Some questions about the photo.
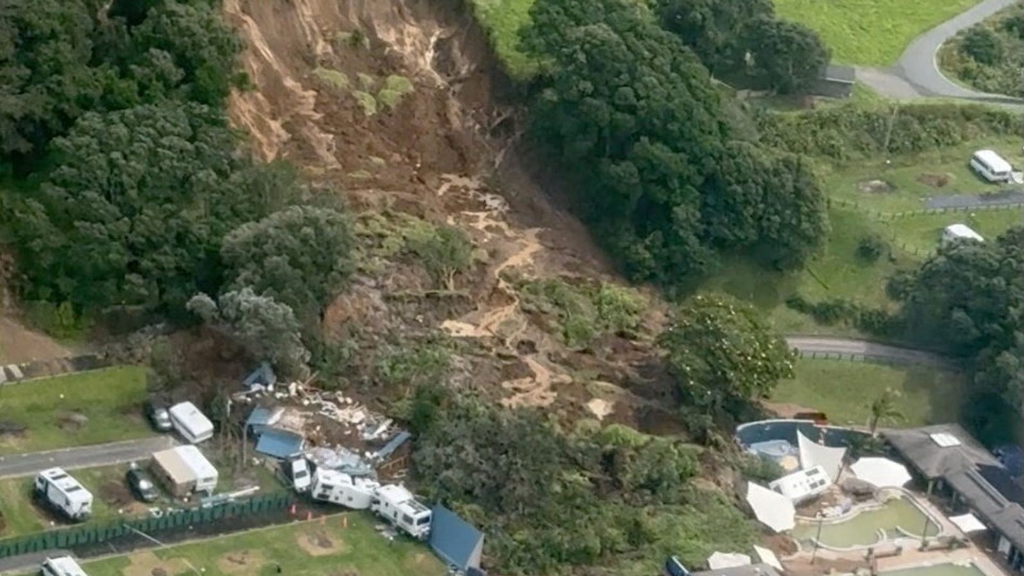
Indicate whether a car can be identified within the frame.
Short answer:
Yes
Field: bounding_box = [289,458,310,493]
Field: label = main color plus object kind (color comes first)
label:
white car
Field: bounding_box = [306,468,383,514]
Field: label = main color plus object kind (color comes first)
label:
white camper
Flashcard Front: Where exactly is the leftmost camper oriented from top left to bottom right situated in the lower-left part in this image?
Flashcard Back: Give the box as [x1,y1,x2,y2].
[39,470,92,527]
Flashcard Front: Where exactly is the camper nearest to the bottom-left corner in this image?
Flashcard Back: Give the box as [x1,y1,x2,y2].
[44,552,88,576]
